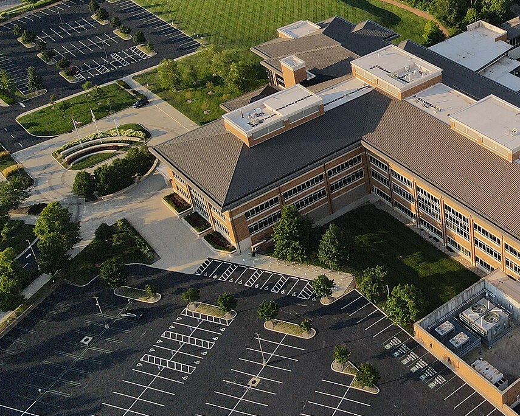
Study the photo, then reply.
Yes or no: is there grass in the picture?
Yes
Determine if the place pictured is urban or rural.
urban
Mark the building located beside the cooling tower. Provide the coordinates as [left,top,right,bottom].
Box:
[147,14,520,303]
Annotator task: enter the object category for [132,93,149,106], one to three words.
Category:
vehicle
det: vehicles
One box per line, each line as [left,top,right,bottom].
[132,93,149,106]
[117,305,145,321]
